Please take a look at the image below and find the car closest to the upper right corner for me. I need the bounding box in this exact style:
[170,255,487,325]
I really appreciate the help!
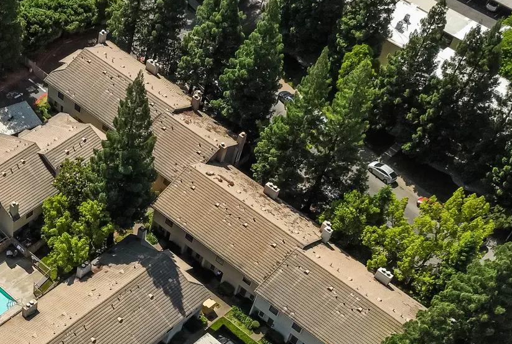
[478,0,503,16]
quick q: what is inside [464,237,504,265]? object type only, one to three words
car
